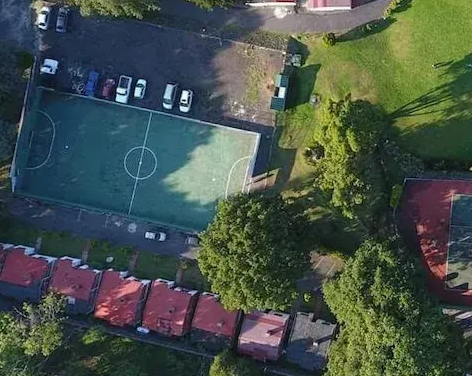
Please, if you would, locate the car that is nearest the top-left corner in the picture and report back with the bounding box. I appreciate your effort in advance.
[37,6,51,30]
